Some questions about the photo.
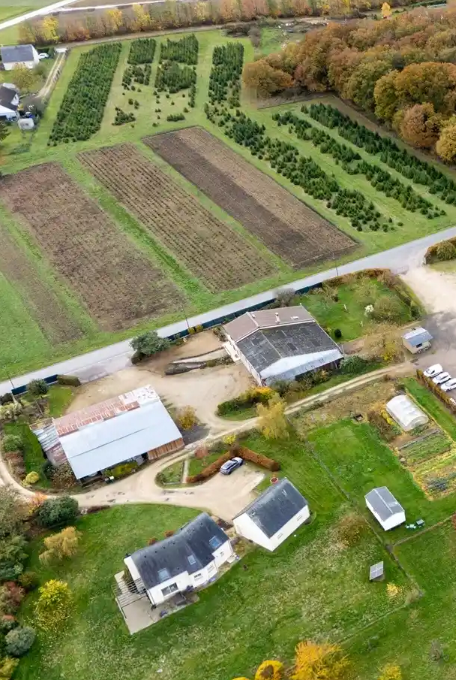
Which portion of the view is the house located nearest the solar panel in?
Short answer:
bottom right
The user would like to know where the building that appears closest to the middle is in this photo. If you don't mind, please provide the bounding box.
[209,300,352,396]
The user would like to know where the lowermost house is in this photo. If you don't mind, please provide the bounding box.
[133,518,233,604]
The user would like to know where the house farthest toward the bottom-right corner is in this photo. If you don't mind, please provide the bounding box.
[364,486,406,531]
